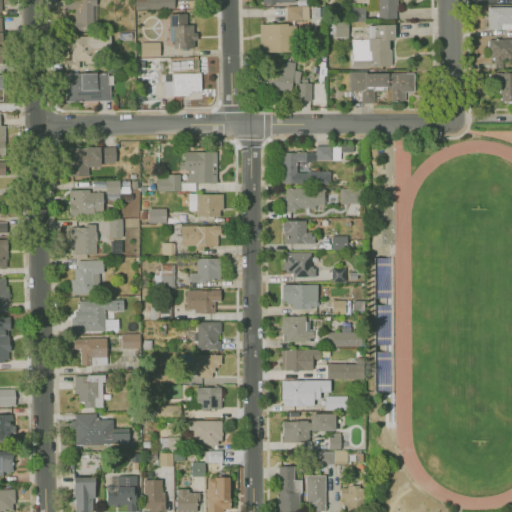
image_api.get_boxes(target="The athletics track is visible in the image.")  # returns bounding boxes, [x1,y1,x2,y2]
[395,138,512,509]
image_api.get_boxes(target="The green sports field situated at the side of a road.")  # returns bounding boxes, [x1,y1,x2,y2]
[412,154,512,497]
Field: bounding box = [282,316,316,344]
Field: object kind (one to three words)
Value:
house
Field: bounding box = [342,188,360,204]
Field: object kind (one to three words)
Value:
building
